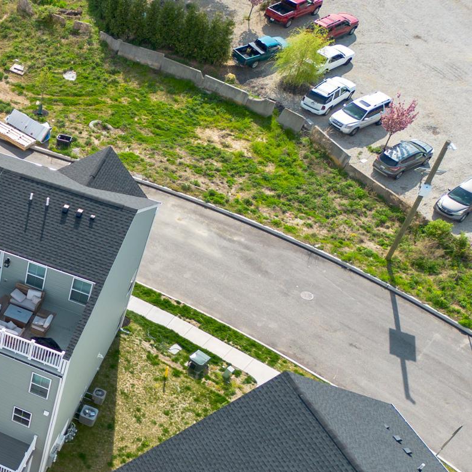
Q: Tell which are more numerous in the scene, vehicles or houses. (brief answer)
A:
vehicles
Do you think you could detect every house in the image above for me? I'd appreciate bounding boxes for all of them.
[122,371,447,472]
[0,145,159,472]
